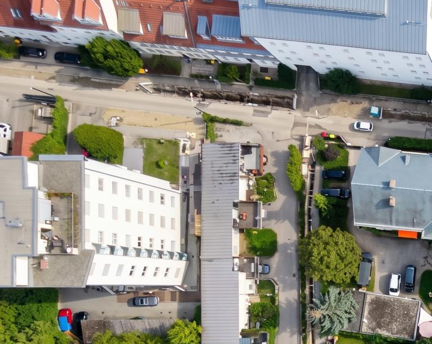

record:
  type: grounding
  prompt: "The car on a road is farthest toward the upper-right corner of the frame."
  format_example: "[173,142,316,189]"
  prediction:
[353,119,375,132]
